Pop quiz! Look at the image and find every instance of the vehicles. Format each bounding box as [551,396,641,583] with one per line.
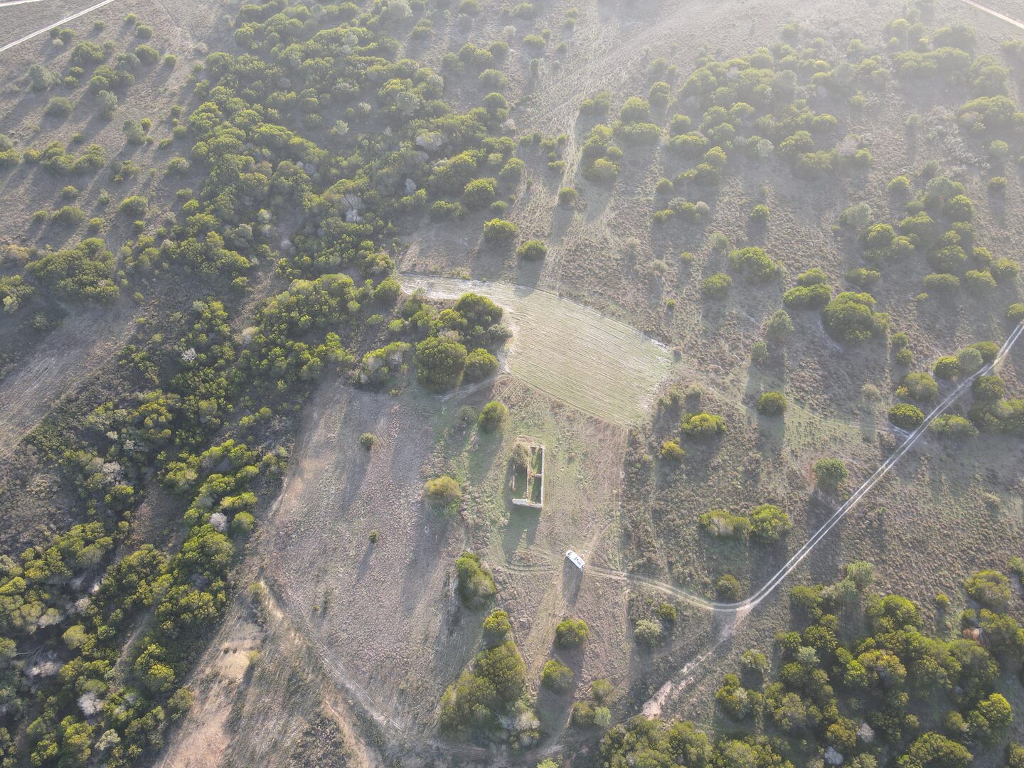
[563,552,590,577]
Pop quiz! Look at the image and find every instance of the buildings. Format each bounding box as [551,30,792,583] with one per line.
[509,440,544,506]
